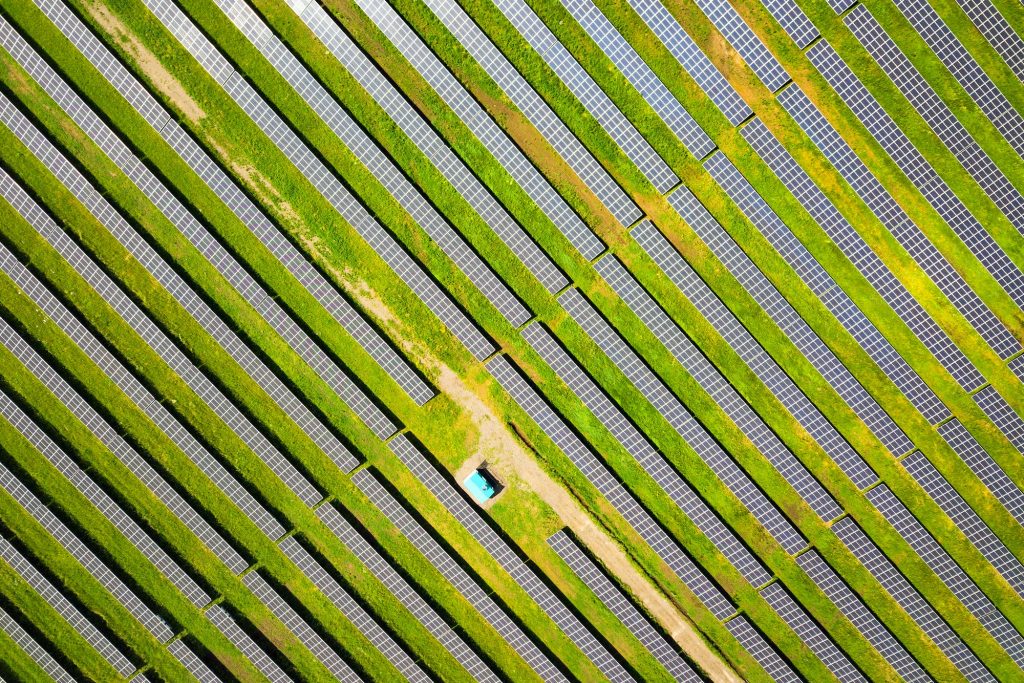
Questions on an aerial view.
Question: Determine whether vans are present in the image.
No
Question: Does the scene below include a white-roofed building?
No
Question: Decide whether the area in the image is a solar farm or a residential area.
solar farm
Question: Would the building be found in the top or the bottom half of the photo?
bottom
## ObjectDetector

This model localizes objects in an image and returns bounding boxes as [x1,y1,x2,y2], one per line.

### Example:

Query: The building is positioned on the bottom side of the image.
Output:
[462,460,495,503]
